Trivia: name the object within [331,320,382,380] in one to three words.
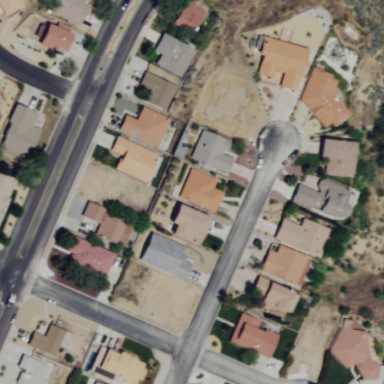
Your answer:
house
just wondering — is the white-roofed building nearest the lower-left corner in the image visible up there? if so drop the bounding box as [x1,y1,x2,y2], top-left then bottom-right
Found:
[17,354,54,384]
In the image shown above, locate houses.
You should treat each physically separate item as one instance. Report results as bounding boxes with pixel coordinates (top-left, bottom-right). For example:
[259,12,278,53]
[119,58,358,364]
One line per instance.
[120,106,172,147]
[168,203,215,246]
[140,232,193,279]
[42,23,75,51]
[232,312,281,358]
[54,0,88,24]
[112,136,158,183]
[324,138,360,178]
[29,324,67,356]
[17,354,54,384]
[331,320,382,380]
[301,66,352,128]
[258,28,310,91]
[0,174,18,223]
[292,178,360,219]
[192,130,234,174]
[180,168,225,213]
[256,276,300,318]
[3,104,46,154]
[275,218,330,258]
[156,33,197,77]
[262,245,314,287]
[68,237,116,274]
[92,346,147,384]
[84,201,132,246]
[0,0,24,17]
[175,3,206,28]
